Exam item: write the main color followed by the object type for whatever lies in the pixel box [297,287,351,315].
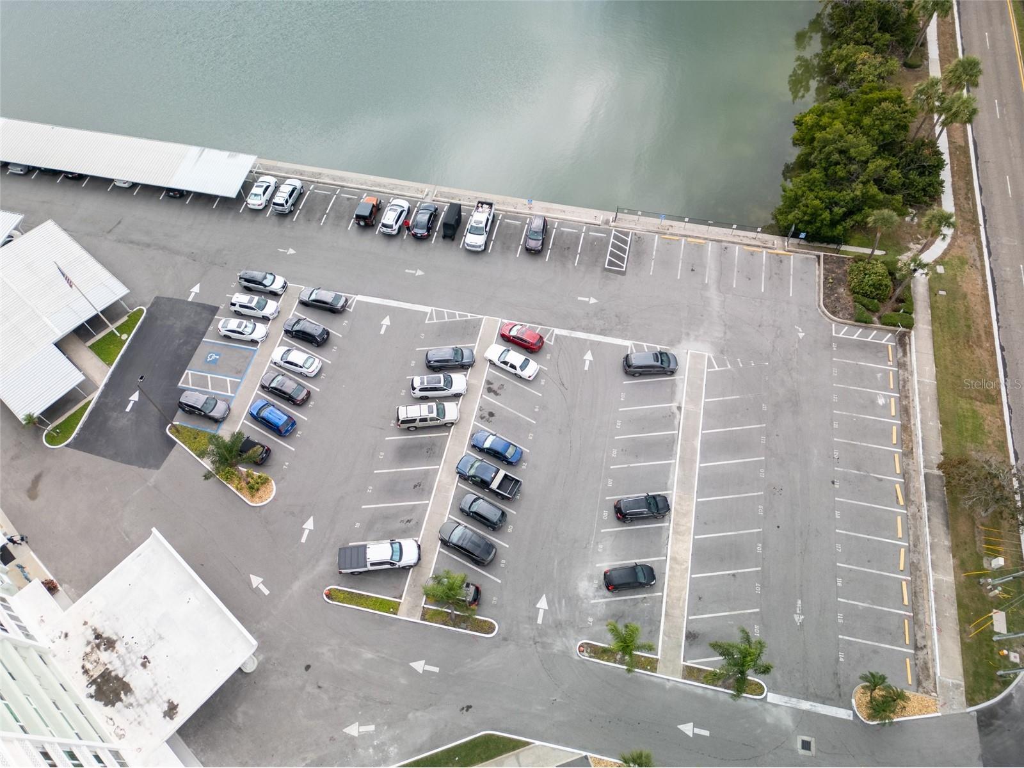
gray car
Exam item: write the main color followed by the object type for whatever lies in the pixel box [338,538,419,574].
white truck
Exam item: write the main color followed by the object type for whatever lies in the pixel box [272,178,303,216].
white car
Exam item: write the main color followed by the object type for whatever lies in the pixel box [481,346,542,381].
white car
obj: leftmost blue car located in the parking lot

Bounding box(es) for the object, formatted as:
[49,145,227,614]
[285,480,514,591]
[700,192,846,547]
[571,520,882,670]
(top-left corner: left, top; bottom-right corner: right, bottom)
[245,399,301,438]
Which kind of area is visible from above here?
parking lot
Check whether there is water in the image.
Yes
